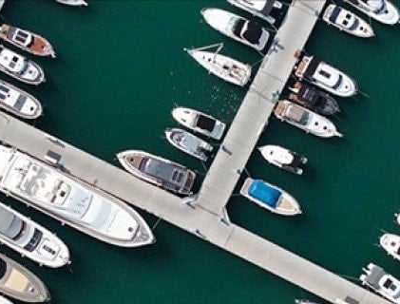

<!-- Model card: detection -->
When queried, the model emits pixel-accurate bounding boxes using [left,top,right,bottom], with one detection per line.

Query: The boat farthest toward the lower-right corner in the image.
[364,266,400,304]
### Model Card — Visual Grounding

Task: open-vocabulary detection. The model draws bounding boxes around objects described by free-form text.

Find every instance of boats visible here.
[199,6,277,51]
[291,52,360,101]
[163,128,212,165]
[257,144,308,175]
[338,0,400,24]
[0,20,59,62]
[183,47,255,85]
[57,0,95,6]
[227,0,289,29]
[372,235,400,263]
[169,108,231,139]
[272,100,343,141]
[0,77,46,117]
[0,200,74,265]
[281,76,342,115]
[235,174,309,220]
[323,3,381,42]
[0,251,55,302]
[364,266,400,304]
[114,149,212,203]
[0,47,47,85]
[0,141,172,262]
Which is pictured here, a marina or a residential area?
marina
